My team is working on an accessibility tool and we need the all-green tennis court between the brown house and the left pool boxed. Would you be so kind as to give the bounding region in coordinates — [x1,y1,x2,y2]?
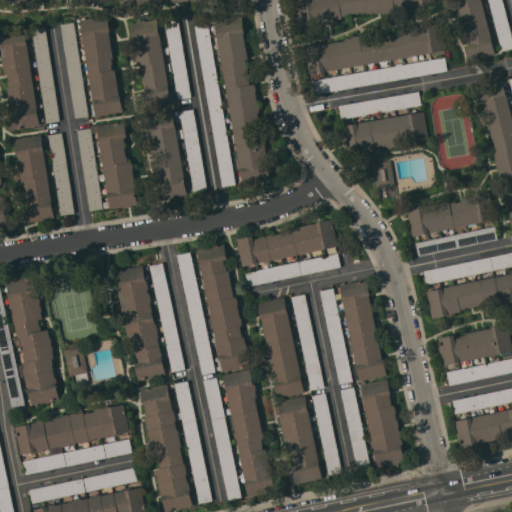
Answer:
[55,285,98,340]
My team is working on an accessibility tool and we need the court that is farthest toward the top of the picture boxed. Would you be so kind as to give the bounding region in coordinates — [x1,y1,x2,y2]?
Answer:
[432,94,476,168]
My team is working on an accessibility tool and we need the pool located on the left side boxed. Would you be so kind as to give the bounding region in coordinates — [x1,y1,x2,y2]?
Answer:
[88,340,125,385]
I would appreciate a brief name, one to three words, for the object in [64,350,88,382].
building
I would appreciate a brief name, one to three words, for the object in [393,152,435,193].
swimming pool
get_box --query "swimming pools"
[393,152,435,193]
[88,340,125,385]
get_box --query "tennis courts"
[55,285,98,340]
[432,94,476,168]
